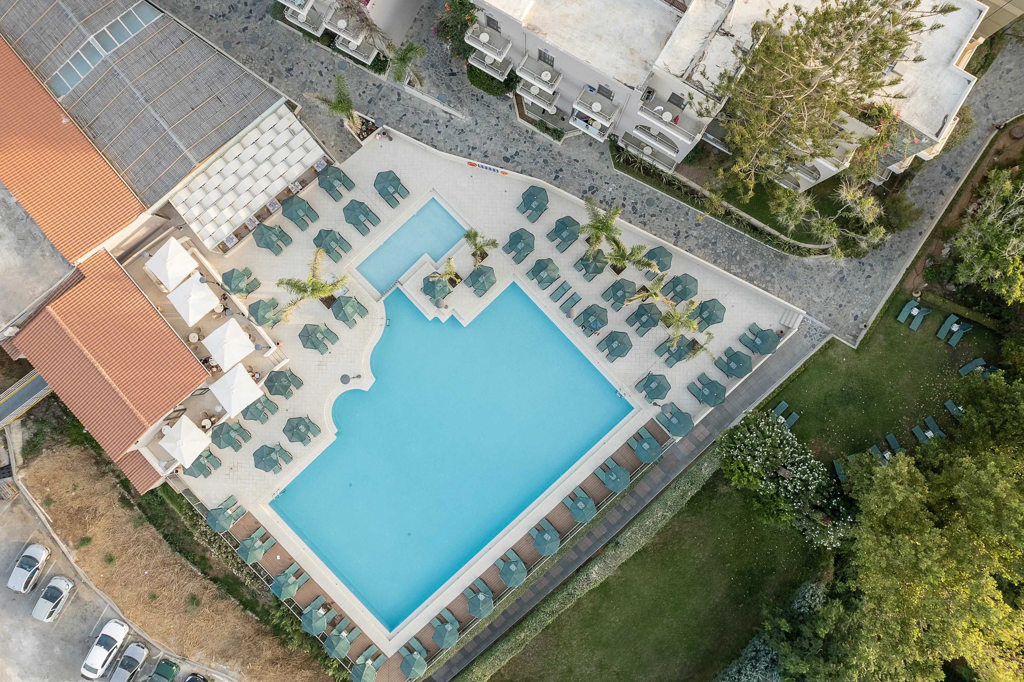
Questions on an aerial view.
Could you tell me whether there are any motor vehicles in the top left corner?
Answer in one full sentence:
No, in the top left corner there is no motor vehicle.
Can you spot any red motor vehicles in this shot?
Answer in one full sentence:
No, I find no red motor vehicle anywhere in the image.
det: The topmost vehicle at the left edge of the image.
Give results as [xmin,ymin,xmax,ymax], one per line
[4,542,52,600]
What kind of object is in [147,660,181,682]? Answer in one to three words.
car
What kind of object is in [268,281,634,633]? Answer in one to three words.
swimming pool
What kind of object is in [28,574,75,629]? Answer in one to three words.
car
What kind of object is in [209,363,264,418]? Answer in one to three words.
umbrella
